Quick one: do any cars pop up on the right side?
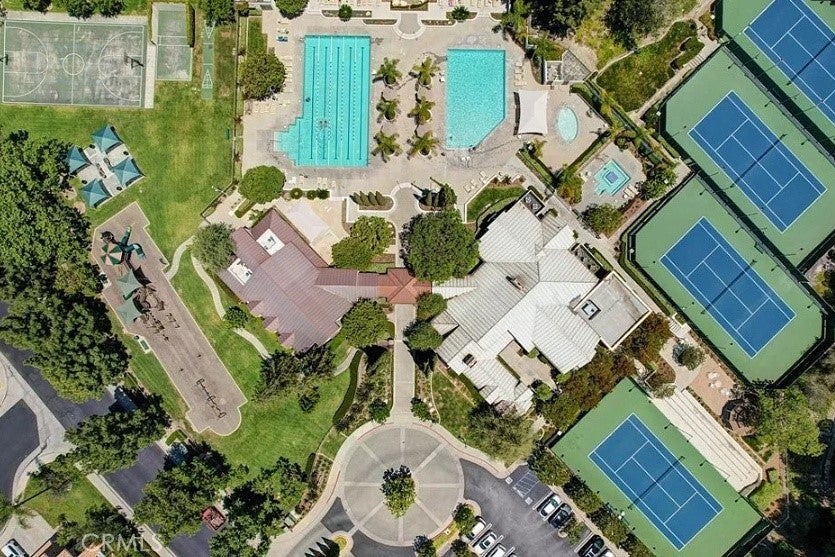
Yes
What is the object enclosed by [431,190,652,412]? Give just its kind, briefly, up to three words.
building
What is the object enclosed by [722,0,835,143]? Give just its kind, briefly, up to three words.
tennis court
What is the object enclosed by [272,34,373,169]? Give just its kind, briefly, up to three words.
swimming pool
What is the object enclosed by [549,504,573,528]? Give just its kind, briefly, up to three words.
car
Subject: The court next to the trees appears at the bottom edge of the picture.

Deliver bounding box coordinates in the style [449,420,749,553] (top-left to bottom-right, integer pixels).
[552,379,762,557]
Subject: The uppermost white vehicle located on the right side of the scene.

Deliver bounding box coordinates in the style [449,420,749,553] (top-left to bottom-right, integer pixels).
[538,494,563,518]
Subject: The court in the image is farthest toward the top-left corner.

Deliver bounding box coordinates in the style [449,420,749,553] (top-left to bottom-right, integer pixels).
[0,20,147,108]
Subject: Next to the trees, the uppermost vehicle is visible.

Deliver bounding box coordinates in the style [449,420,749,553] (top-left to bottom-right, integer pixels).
[112,387,135,411]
